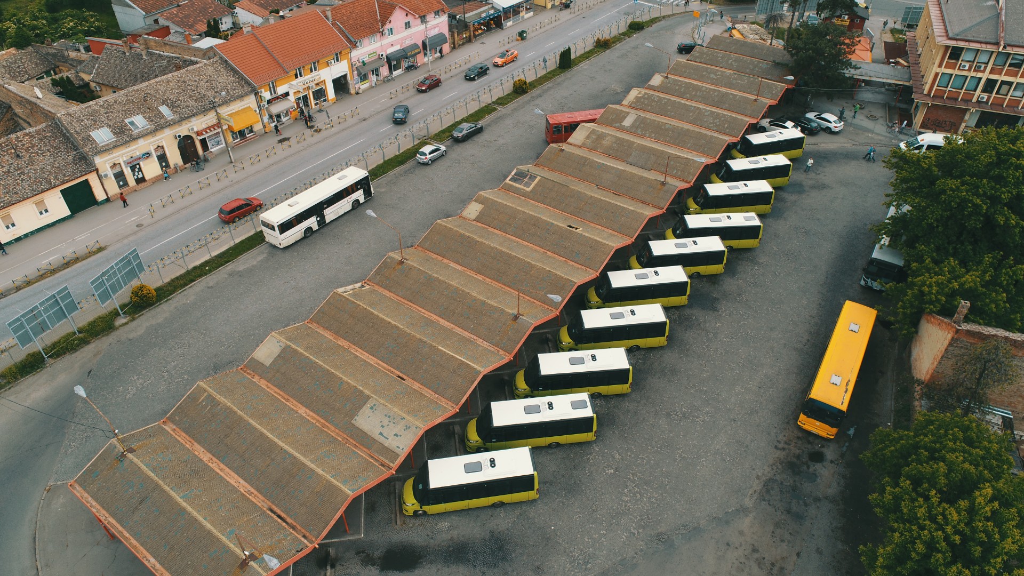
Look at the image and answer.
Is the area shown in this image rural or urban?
urban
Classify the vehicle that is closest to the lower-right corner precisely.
bus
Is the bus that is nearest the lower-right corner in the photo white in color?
No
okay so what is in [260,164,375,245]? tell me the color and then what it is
white bus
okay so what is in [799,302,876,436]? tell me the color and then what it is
orange bus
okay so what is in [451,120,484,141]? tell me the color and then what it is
gray car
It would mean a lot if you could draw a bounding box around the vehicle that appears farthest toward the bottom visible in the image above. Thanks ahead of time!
[403,447,539,518]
